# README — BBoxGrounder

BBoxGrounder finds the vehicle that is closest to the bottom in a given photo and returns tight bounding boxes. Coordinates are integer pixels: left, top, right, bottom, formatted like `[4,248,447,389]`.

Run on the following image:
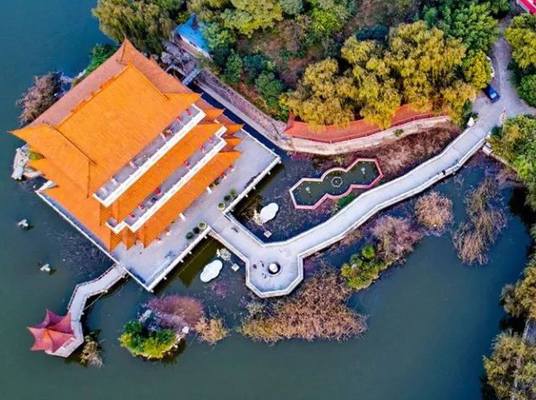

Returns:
[485,84,499,102]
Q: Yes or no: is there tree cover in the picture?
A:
Yes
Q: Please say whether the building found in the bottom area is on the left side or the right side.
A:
left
